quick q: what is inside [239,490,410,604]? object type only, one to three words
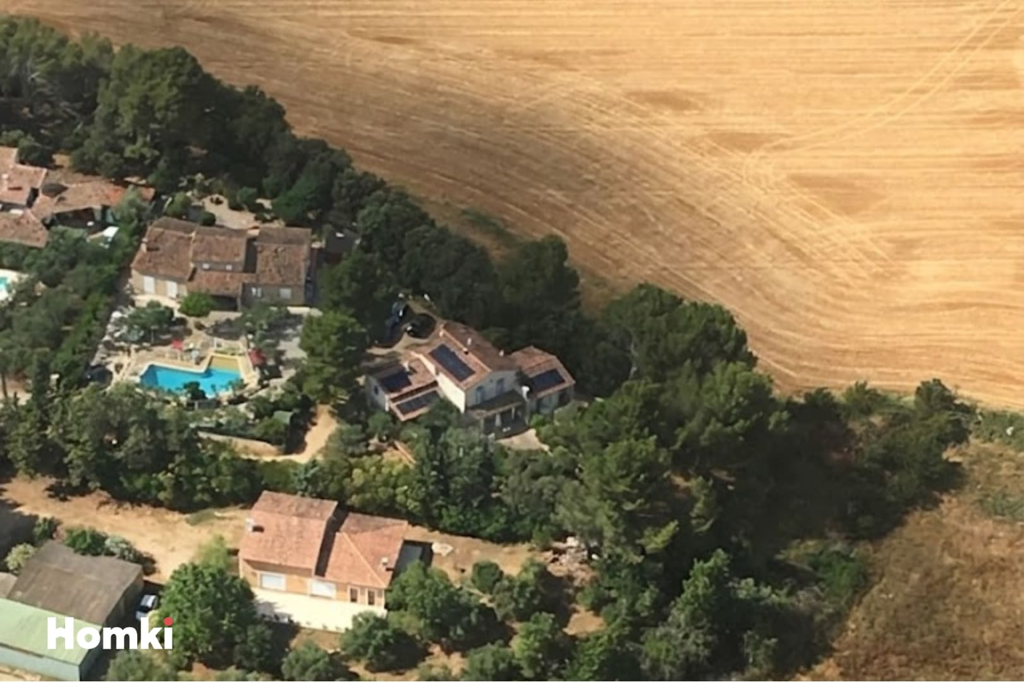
house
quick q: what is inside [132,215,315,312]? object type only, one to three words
house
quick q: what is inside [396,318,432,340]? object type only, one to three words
car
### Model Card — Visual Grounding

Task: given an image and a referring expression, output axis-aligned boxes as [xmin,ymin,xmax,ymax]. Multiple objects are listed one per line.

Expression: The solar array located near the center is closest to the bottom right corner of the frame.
[526,365,561,390]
